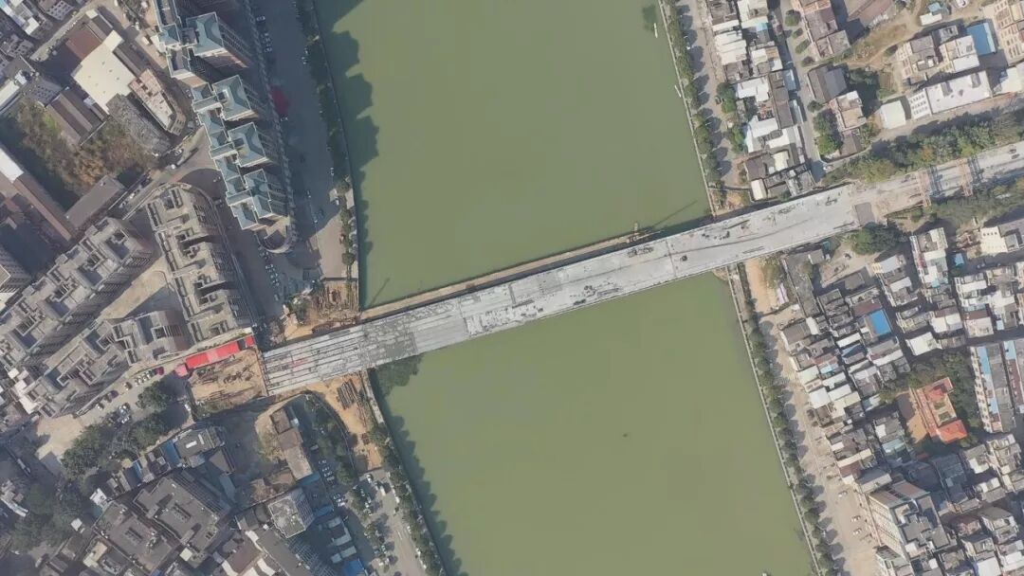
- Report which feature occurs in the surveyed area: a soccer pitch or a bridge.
bridge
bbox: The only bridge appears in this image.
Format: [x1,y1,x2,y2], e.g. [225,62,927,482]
[263,184,861,396]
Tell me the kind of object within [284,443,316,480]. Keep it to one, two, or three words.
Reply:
house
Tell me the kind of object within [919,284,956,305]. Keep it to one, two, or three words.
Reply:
house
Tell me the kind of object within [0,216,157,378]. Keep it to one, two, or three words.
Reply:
building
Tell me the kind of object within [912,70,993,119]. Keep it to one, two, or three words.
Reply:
building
